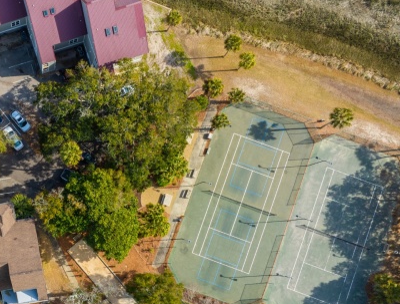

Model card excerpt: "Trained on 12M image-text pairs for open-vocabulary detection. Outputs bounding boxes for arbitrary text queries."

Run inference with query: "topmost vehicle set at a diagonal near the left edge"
[9,109,31,134]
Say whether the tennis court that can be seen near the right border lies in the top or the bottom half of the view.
bottom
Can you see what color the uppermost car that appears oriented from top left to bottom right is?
blue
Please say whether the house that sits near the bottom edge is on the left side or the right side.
left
